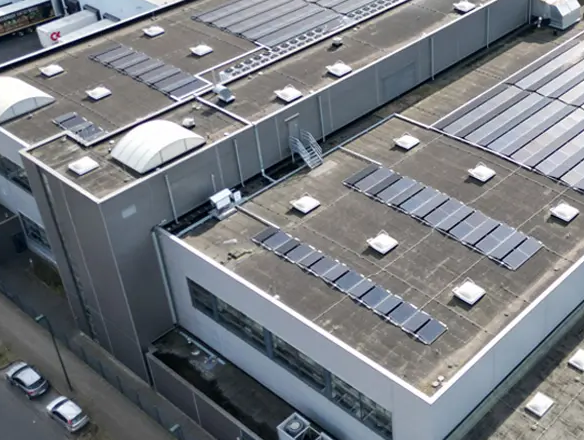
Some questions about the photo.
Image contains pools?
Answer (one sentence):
No, the picture doesn't show any pool.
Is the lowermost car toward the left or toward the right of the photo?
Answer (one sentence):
It is on the left.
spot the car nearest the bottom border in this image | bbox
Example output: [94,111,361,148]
[47,399,88,434]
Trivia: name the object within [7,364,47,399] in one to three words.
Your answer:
car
